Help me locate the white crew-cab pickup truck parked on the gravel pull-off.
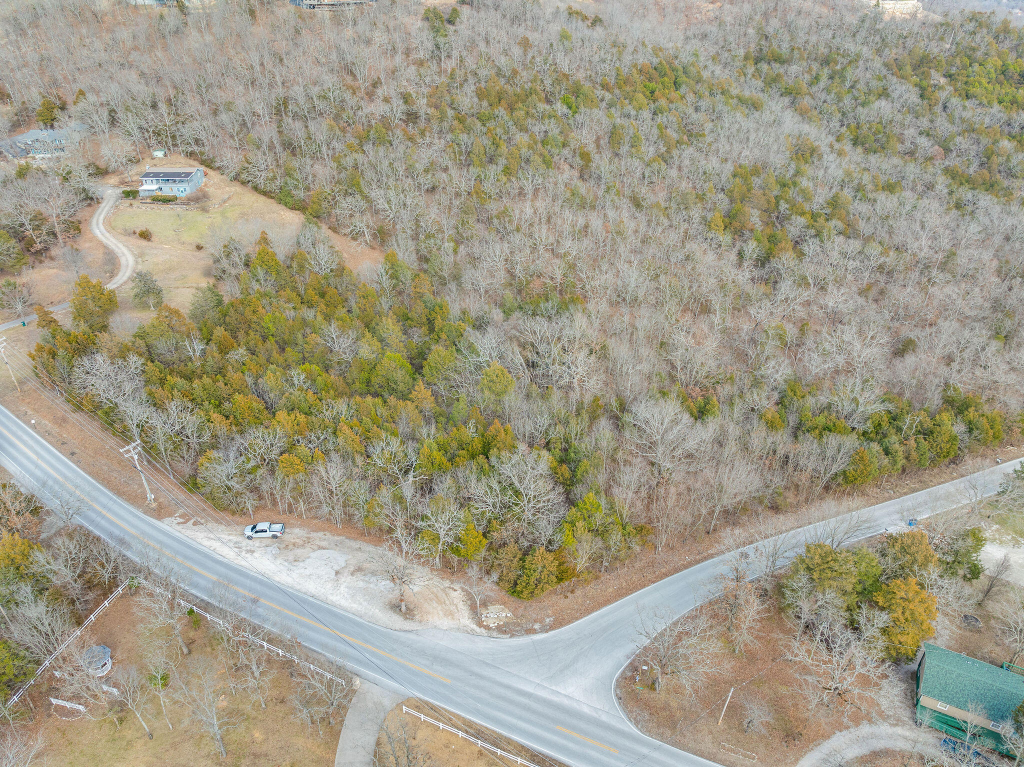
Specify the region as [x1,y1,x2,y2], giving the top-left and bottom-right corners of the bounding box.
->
[240,522,285,541]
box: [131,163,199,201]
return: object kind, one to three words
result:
house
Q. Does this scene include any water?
No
